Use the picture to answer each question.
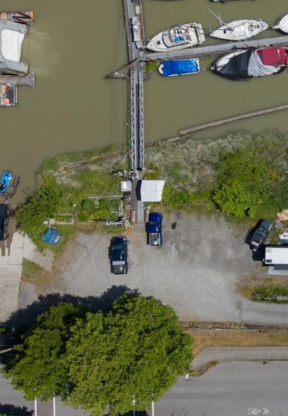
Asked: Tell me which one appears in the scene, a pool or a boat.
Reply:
boat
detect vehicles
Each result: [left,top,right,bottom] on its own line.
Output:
[145,213,164,246]
[108,237,130,275]
[262,238,288,271]
[245,217,273,253]
[0,203,12,240]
